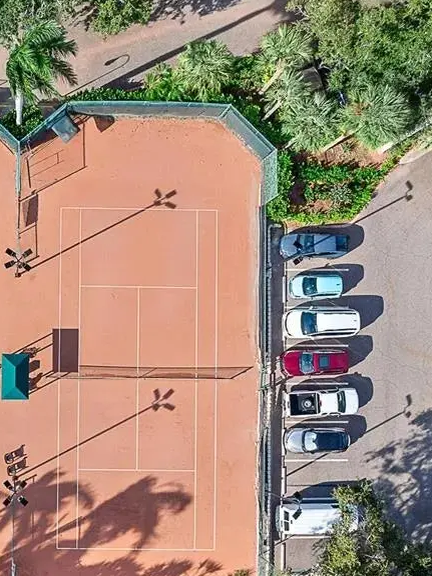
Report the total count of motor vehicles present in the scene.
7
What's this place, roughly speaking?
sports ground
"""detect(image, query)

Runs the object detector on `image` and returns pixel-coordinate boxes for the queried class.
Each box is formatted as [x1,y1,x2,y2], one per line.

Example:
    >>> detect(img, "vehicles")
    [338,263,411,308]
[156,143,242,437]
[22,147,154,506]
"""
[281,385,359,418]
[276,499,368,537]
[283,425,349,456]
[281,304,358,338]
[287,271,344,299]
[278,227,350,260]
[279,346,348,378]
